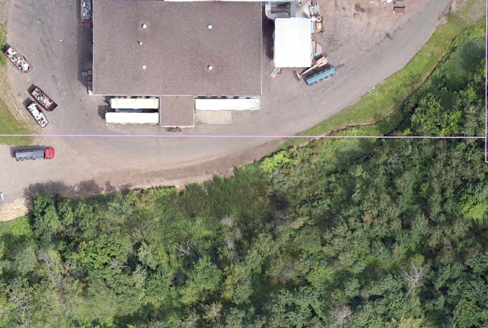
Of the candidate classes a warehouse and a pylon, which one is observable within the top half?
warehouse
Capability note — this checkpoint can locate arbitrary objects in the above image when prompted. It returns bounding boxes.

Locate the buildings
[273,18,311,67]
[92,1,263,132]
